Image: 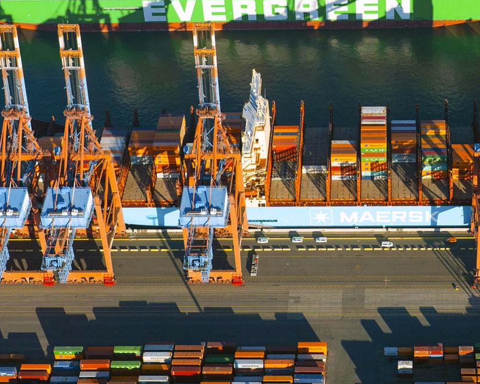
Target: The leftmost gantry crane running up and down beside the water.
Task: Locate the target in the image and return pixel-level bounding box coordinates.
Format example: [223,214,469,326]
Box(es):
[0,19,69,286]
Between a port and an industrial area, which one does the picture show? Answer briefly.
port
